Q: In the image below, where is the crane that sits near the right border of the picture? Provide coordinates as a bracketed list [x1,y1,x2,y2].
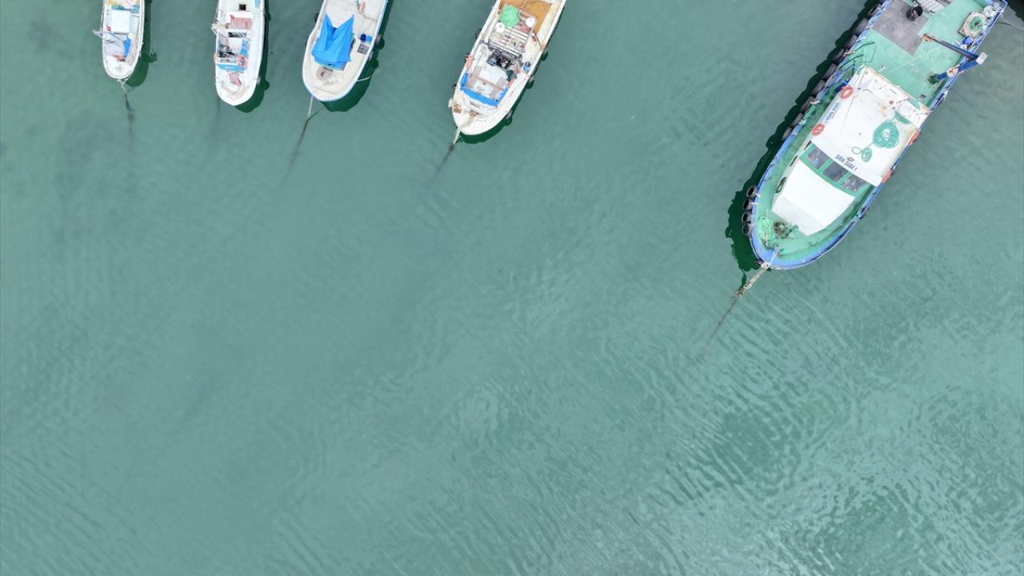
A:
[914,32,987,84]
